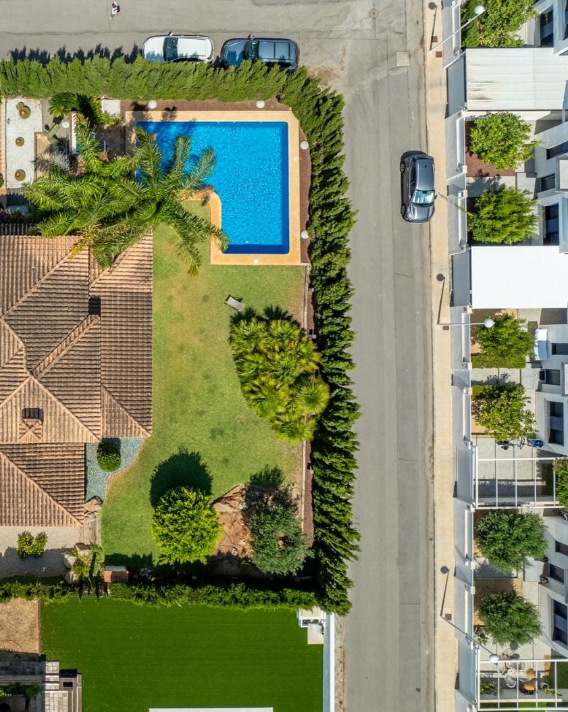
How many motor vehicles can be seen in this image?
3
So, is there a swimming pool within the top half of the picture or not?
Yes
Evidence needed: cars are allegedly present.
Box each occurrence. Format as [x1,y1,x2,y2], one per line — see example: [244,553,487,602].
[398,153,438,224]
[139,31,213,67]
[217,33,298,73]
